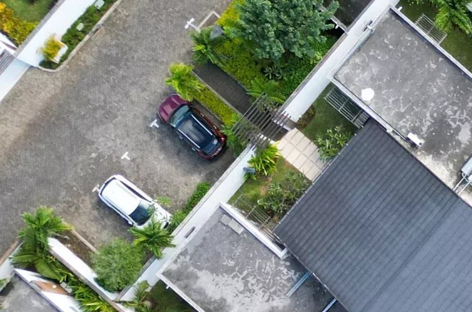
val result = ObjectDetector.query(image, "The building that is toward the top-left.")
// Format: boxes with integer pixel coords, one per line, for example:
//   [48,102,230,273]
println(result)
[0,22,55,104]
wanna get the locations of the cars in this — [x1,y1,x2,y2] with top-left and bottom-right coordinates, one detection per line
[157,93,234,164]
[94,167,177,231]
